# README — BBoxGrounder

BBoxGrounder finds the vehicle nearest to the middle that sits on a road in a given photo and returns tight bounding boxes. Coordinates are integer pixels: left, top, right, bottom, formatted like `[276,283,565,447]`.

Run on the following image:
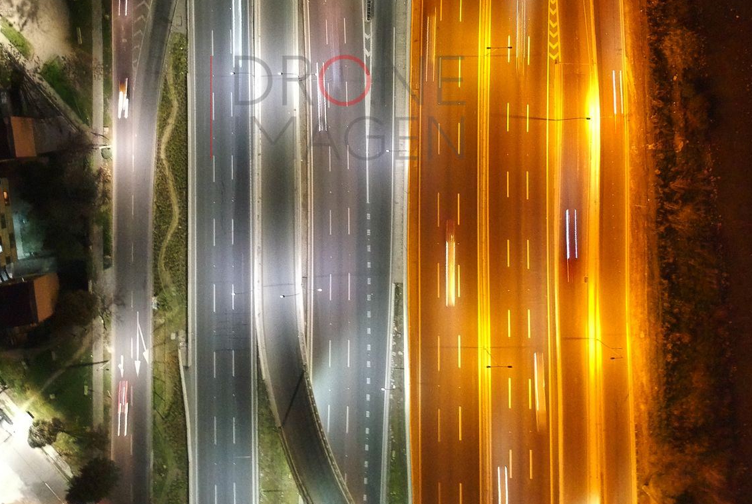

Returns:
[444,261,457,287]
